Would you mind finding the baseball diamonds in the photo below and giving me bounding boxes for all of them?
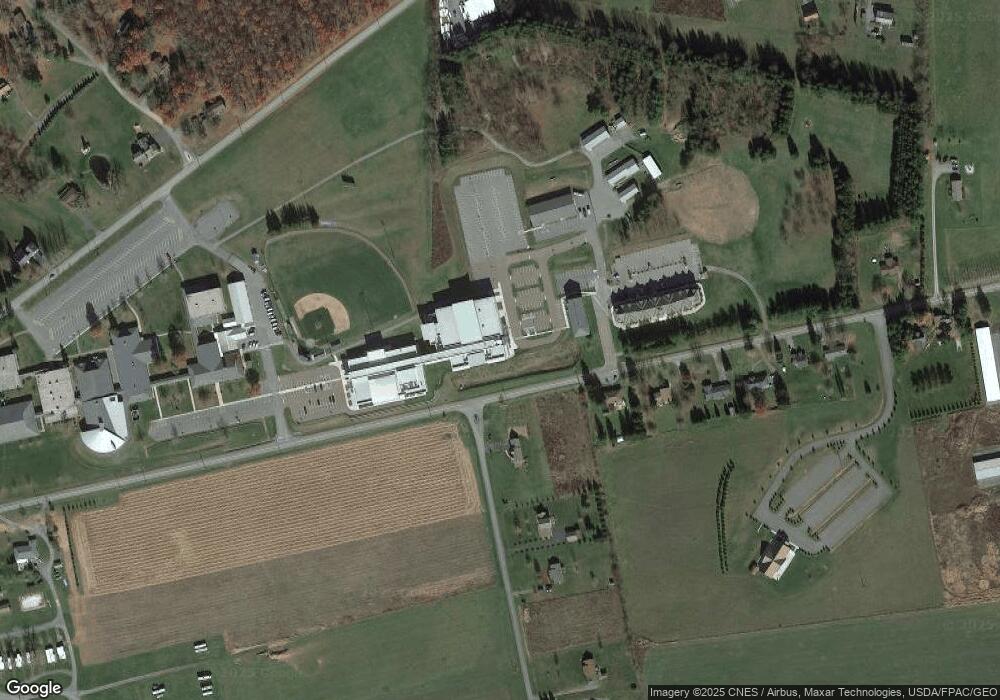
[266,227,418,349]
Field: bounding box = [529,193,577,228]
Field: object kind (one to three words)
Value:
building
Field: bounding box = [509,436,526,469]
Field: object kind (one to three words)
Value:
house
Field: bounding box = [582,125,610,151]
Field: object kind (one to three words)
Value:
shed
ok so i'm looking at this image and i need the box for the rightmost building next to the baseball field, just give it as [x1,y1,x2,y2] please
[348,296,506,408]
